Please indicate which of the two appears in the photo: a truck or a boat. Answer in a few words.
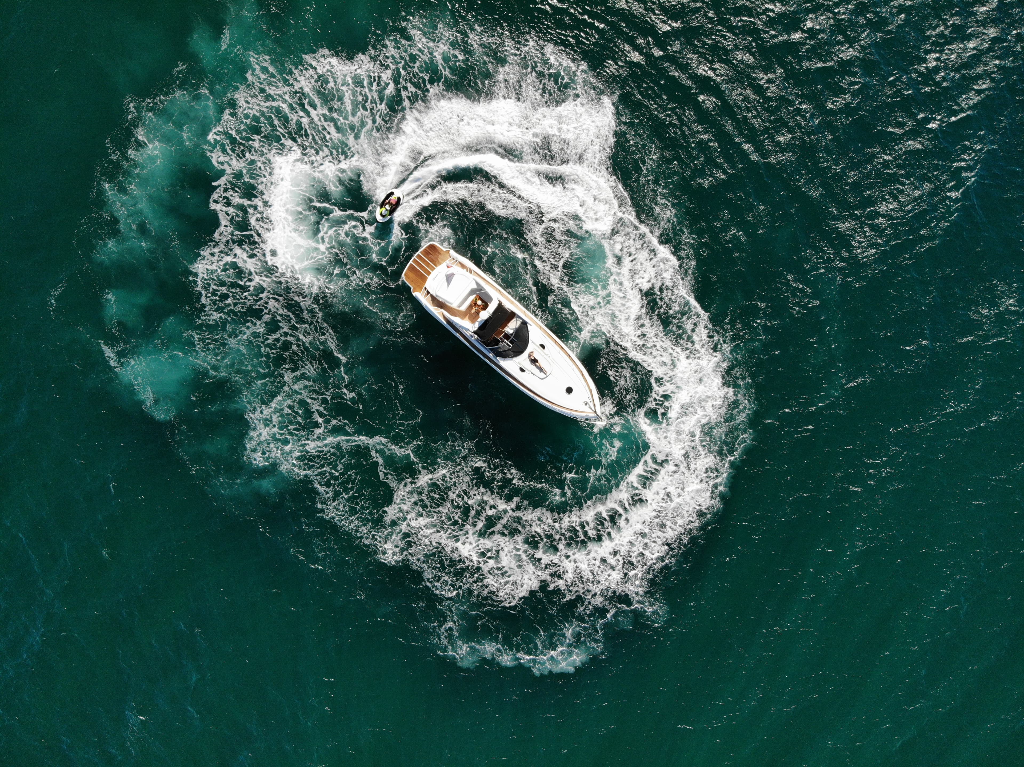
boat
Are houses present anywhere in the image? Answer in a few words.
No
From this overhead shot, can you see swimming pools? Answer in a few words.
No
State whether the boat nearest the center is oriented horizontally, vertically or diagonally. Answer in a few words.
diagonally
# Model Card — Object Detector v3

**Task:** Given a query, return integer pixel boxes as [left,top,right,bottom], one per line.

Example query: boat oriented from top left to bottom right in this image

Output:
[402,242,609,423]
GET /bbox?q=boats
[376,188,401,222]
[402,242,609,423]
